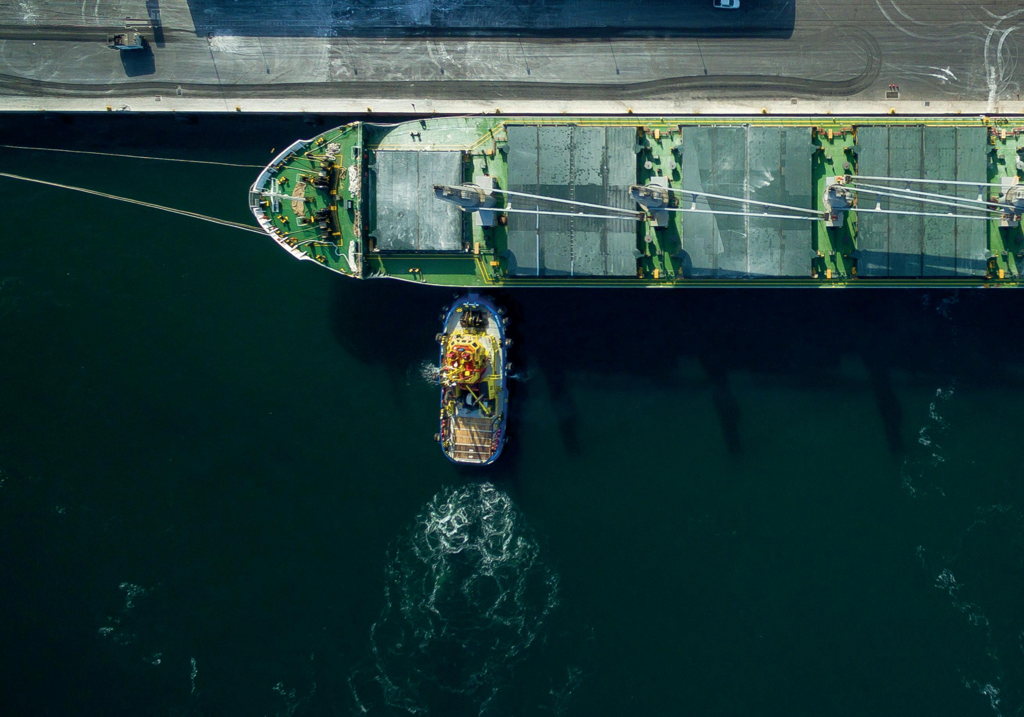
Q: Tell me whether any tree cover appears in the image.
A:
No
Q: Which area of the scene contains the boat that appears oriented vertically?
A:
center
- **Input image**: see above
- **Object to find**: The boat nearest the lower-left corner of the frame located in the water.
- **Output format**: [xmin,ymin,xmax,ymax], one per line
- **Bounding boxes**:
[436,292,512,465]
